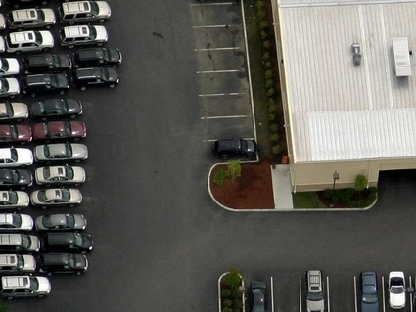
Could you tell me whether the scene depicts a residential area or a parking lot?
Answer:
parking lot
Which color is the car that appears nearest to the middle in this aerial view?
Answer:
black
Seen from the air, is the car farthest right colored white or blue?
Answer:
white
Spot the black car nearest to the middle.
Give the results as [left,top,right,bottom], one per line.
[209,139,258,162]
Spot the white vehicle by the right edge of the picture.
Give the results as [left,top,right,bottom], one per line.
[386,270,408,310]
